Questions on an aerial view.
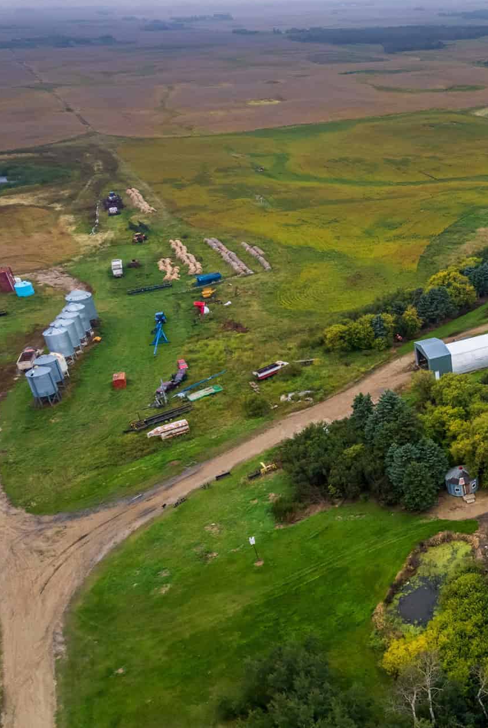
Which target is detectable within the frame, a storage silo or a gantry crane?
storage silo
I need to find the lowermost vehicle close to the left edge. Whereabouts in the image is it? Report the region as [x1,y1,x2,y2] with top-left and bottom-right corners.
[10,351,41,370]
